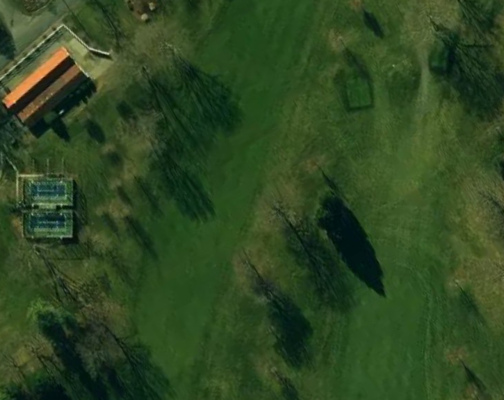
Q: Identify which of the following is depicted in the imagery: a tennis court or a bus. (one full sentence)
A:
It is a tennis court that can be seen here.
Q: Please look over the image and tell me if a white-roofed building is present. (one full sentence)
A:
No, no white-roofed building is visible in the view.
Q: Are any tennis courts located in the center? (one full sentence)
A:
No, I can find no tennis court in the center.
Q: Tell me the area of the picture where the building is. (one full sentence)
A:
The building is in the top left part of the image.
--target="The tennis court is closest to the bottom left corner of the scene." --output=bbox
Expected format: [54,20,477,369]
[23,209,73,237]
